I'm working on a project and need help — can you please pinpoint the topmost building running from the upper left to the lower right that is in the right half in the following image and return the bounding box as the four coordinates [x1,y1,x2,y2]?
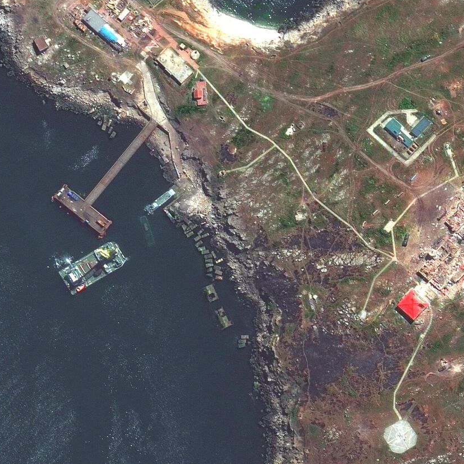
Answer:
[384,117,413,149]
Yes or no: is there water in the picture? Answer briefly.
Yes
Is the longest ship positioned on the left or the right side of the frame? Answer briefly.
left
